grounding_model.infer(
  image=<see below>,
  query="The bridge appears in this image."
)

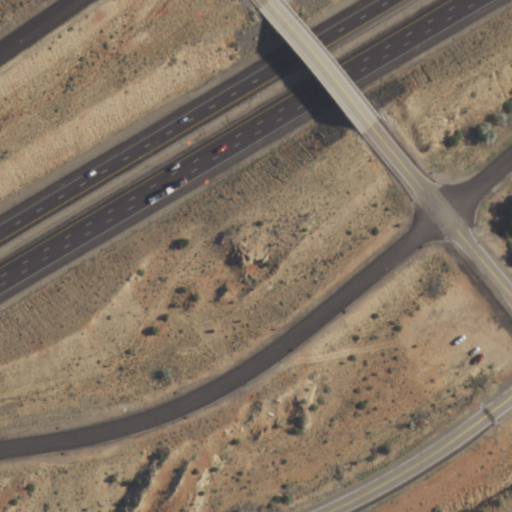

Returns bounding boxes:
[254,0,383,134]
